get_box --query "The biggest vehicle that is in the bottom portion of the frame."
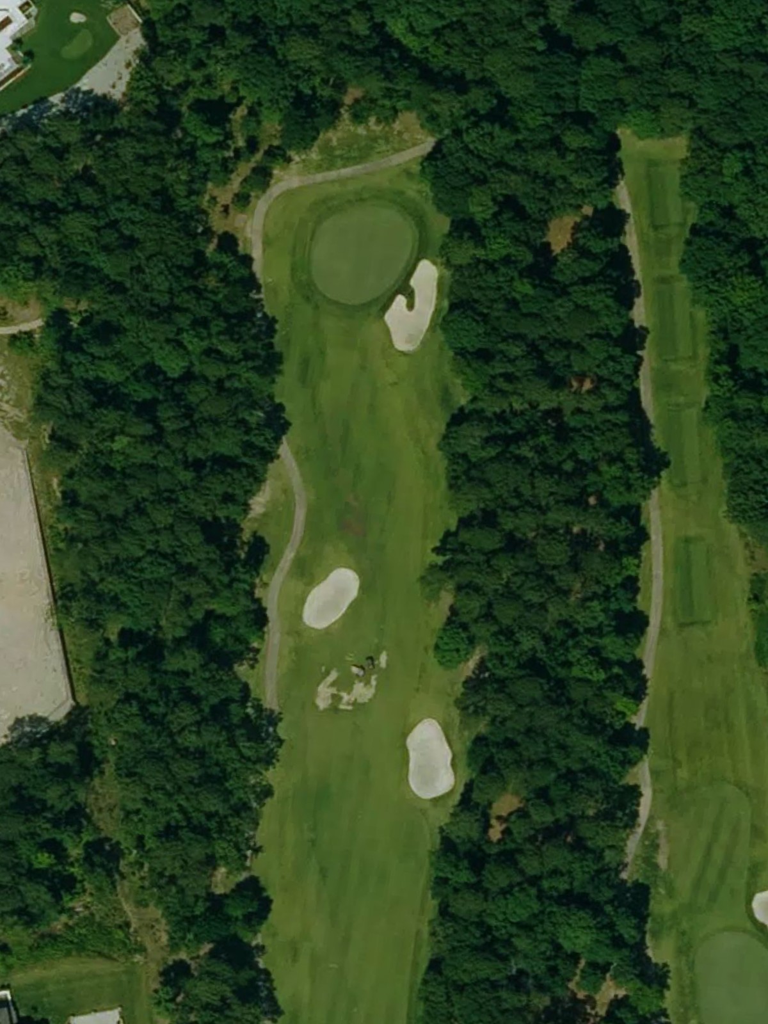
[350,665,365,677]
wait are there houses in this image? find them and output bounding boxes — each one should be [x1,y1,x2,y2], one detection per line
[0,0,37,90]
[69,1008,122,1024]
[0,988,17,1024]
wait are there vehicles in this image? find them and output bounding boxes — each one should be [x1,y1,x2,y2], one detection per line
[366,656,374,668]
[350,665,365,677]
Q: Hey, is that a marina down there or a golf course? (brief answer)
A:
golf course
